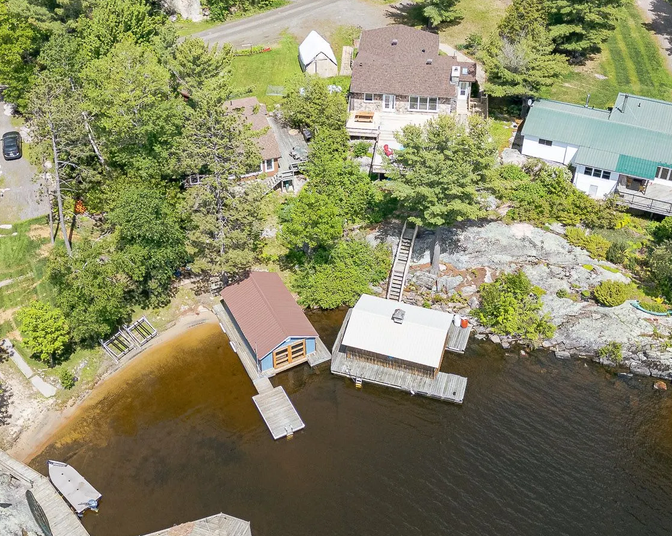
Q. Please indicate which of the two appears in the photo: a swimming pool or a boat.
boat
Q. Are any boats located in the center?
No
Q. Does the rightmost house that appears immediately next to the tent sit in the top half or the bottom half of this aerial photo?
top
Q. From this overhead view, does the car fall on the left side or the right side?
left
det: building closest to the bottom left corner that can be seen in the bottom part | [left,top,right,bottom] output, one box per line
[215,272,322,381]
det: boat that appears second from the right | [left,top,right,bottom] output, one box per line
[43,452,102,512]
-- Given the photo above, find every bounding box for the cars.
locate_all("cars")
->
[0,129,25,161]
